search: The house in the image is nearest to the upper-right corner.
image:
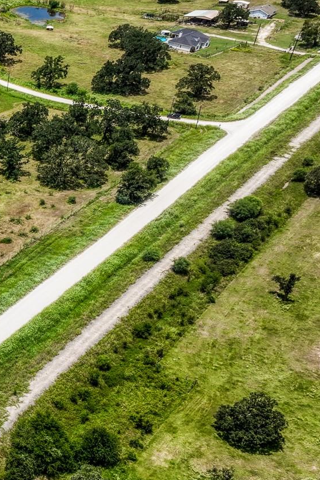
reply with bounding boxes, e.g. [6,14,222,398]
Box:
[246,2,278,24]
